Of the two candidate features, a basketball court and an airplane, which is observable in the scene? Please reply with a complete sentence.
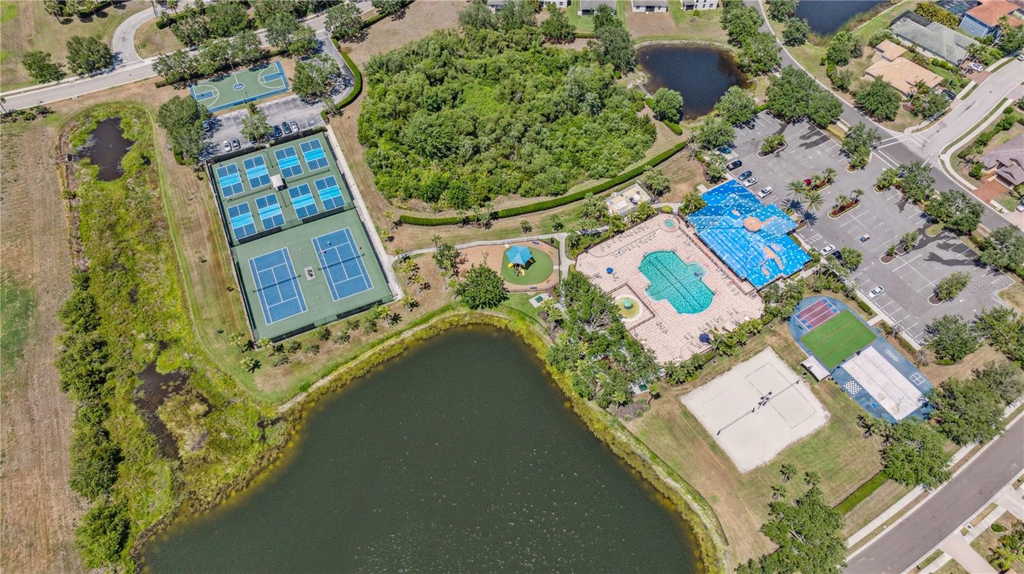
Visible in the photo is a basketball court.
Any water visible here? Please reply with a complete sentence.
Yes, there is water in the image.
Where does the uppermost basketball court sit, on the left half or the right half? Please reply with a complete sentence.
The uppermost basketball court appears in the left half of the scene.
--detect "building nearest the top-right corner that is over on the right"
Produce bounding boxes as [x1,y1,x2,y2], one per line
[955,0,1022,39]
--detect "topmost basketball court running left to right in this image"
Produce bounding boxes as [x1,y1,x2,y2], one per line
[192,60,291,113]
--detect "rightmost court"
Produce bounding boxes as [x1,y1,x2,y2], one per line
[787,295,933,424]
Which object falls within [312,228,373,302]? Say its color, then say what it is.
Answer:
blue tennis court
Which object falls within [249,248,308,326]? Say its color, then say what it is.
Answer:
blue tennis court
